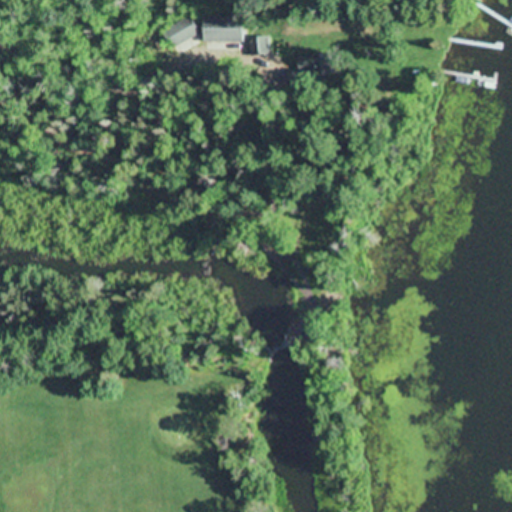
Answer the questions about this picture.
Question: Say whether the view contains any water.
Yes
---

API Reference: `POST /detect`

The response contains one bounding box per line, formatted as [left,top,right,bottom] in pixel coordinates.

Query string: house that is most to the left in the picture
[168,15,200,44]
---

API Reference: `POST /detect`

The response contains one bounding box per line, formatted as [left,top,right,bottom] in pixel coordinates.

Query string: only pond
[213,264,325,512]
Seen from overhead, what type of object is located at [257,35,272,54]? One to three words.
shed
